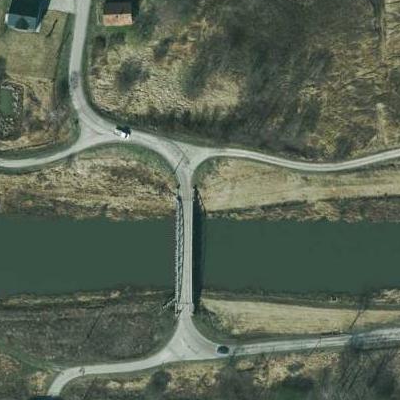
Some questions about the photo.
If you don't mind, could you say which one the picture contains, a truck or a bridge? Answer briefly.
bridge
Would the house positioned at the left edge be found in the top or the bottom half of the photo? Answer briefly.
top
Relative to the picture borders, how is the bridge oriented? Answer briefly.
up and down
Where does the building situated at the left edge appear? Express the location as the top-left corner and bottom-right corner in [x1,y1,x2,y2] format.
[6,0,40,37]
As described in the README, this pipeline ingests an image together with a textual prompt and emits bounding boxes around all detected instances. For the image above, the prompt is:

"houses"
[103,1,133,26]
[6,0,40,37]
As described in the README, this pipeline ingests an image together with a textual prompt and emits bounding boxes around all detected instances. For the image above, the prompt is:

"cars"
[115,129,129,139]
[217,347,230,353]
